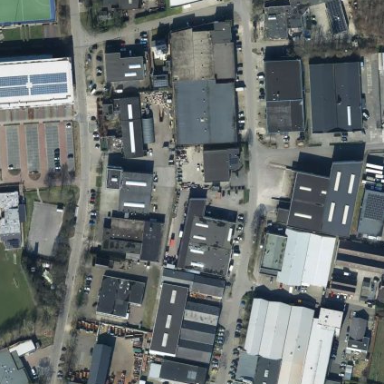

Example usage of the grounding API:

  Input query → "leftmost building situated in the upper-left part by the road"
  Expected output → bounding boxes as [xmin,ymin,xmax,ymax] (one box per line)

[0,58,74,112]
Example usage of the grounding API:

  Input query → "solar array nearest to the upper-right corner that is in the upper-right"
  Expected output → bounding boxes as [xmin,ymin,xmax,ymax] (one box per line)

[327,1,347,32]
